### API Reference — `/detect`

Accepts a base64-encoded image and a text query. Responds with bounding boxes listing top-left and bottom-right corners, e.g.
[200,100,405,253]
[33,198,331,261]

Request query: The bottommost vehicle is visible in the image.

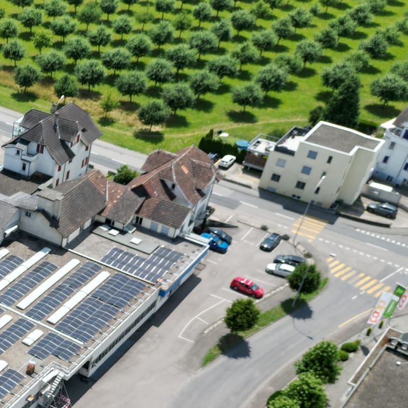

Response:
[230,276,264,299]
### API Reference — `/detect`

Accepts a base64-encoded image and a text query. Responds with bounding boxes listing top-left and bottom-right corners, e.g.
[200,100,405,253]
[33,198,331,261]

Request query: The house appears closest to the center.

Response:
[99,138,221,235]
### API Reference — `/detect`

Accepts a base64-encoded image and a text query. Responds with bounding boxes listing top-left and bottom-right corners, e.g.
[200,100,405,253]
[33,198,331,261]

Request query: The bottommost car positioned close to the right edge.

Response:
[366,203,399,218]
